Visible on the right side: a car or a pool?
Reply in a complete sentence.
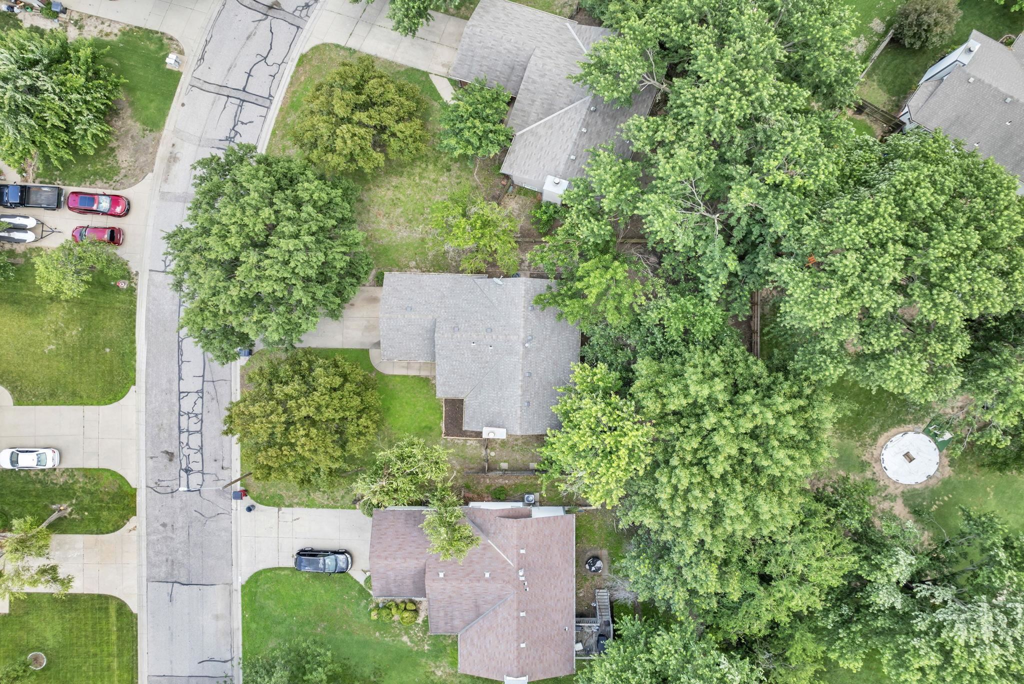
The one visible on the right side is a pool.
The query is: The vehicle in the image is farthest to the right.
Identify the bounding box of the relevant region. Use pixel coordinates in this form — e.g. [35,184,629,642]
[296,545,354,576]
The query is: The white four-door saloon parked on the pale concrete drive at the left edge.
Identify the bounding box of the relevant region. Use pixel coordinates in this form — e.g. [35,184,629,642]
[0,445,62,472]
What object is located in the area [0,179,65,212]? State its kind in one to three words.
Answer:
truck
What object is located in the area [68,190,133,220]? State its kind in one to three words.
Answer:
car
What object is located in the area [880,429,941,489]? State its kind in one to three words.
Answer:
swimming pool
